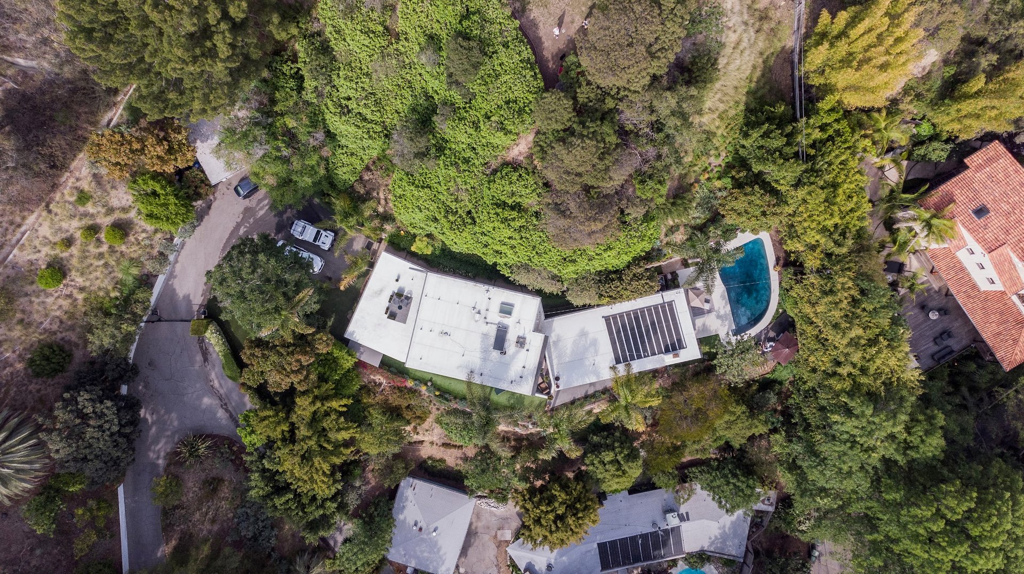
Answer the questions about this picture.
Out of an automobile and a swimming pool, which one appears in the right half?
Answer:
swimming pool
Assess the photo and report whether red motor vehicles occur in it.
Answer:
No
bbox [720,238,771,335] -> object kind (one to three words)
swimming pool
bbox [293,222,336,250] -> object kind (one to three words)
car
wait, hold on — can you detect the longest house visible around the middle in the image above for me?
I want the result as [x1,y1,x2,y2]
[344,252,701,396]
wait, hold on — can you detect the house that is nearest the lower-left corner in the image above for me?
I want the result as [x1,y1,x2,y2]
[387,474,478,574]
